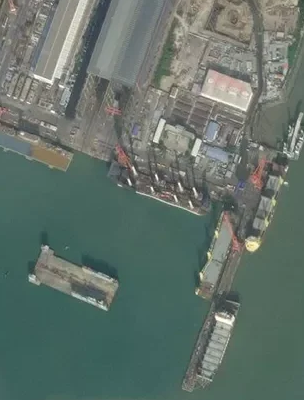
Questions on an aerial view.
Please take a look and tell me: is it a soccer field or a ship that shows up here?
ship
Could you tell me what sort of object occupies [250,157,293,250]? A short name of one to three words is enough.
ship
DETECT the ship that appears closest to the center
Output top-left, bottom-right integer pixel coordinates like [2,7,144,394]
[115,163,211,216]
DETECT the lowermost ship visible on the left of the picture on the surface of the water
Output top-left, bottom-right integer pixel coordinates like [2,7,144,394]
[29,245,119,310]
